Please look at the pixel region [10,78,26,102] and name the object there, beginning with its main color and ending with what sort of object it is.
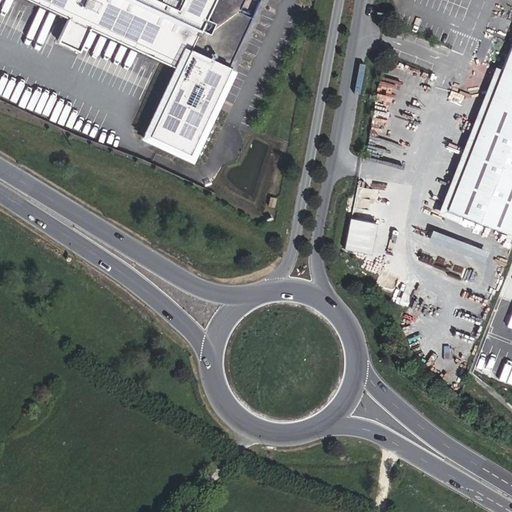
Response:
white vehicle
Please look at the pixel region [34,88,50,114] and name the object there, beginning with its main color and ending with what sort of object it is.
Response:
white vehicle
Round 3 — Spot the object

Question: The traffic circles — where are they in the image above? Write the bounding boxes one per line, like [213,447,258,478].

[200,278,370,446]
